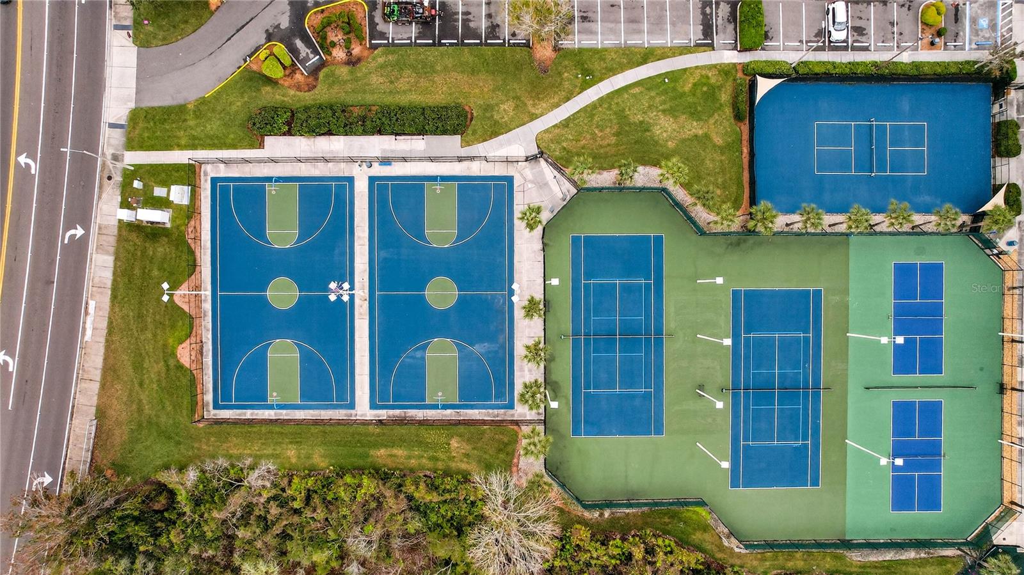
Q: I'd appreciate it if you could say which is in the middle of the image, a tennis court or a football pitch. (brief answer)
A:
tennis court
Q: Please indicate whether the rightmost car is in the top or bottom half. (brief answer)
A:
top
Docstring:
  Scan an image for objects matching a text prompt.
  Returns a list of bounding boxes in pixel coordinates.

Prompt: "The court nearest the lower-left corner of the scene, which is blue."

[210,176,356,411]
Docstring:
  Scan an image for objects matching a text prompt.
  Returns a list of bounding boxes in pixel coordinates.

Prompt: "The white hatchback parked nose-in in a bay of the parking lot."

[827,1,850,42]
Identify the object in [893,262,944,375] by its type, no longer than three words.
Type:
sports court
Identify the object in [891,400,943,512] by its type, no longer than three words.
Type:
sports court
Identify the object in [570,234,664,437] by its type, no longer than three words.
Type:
tennis court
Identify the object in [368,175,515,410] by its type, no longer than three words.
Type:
basketball court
